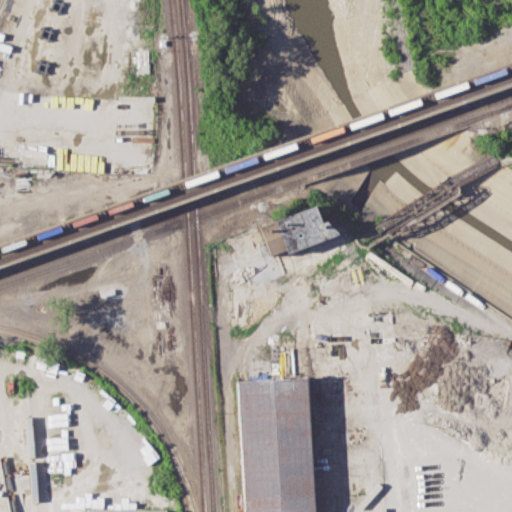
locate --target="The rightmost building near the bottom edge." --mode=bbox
[236,378,315,512]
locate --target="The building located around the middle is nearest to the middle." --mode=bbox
[260,206,340,256]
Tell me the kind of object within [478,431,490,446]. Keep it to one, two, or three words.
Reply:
vehicle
